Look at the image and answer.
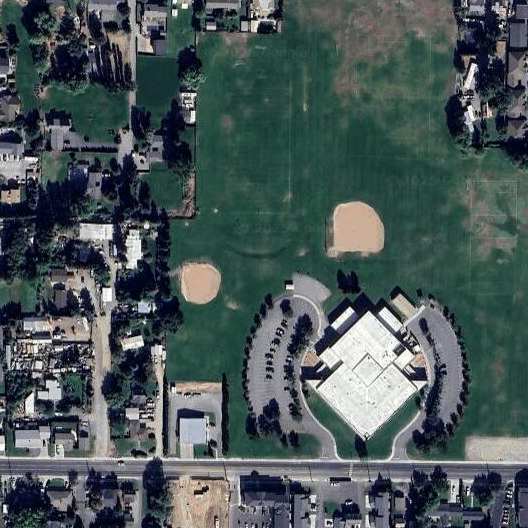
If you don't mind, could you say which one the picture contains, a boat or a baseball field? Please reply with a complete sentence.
Looking from above, you can make out a baseball field.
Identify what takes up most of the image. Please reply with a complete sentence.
For the most part, this view shows grass.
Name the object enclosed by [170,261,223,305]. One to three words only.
baseball field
